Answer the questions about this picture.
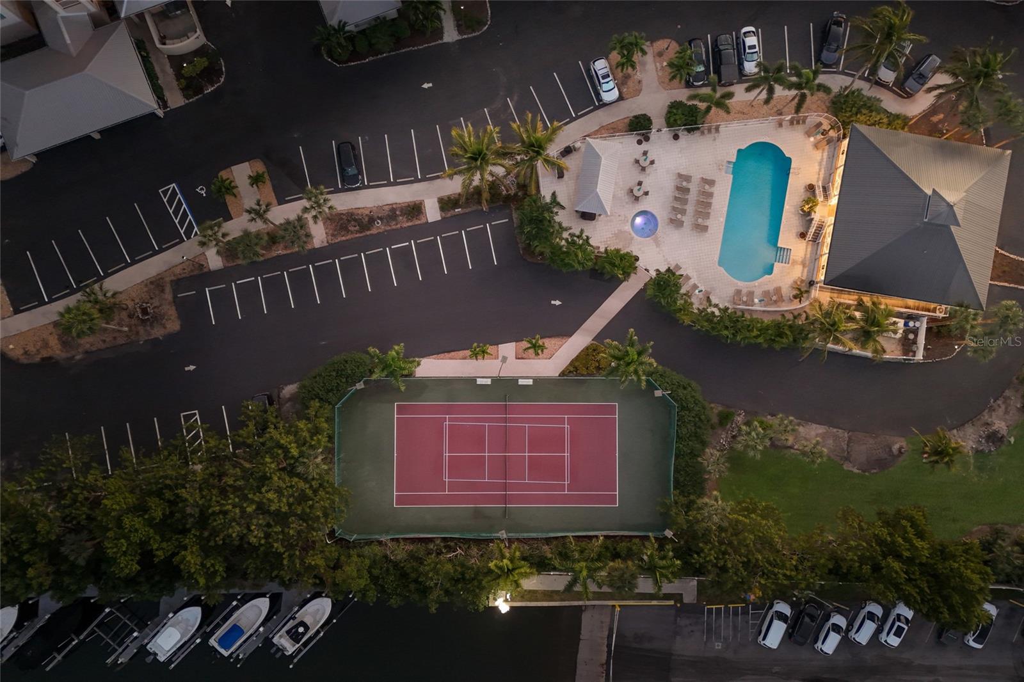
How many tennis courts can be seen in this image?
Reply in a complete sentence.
Altogether the scene contains 1 tennis court.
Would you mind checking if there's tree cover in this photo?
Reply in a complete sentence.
Yes, the picture does contain tree cover.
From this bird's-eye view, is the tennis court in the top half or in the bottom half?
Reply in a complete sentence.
The tennis court is in the bottom half of the image.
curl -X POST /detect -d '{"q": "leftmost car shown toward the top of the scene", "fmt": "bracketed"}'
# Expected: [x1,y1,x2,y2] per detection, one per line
[336,141,361,188]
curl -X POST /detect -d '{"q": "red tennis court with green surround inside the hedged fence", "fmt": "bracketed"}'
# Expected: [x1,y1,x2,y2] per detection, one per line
[346,382,666,533]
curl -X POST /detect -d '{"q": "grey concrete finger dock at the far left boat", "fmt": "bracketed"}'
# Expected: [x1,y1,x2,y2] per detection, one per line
[0,591,64,663]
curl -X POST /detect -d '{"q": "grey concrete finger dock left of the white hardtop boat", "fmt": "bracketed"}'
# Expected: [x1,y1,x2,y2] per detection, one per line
[119,591,196,663]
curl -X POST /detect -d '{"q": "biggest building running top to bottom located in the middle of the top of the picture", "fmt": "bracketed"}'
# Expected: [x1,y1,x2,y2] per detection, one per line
[575,139,622,216]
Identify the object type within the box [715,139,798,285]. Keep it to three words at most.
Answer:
swimming pool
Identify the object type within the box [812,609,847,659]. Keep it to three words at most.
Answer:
car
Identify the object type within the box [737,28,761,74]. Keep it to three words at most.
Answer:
car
